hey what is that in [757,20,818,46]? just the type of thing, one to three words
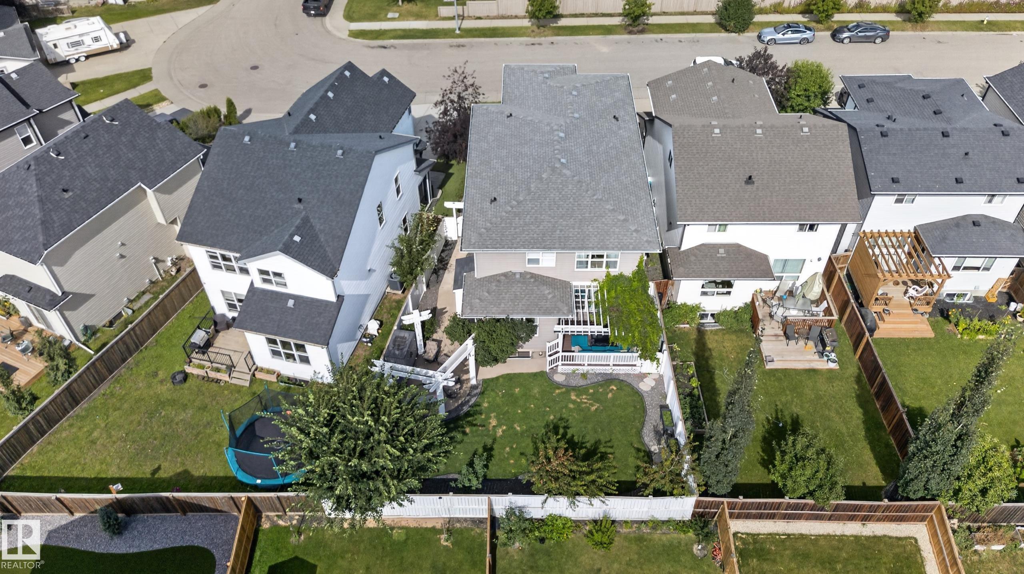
car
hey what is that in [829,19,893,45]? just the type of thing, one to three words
car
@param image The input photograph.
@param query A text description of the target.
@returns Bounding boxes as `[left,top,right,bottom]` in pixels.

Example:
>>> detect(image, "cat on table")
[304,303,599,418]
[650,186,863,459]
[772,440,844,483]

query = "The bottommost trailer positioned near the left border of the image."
[36,12,137,65]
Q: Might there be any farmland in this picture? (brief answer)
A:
No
